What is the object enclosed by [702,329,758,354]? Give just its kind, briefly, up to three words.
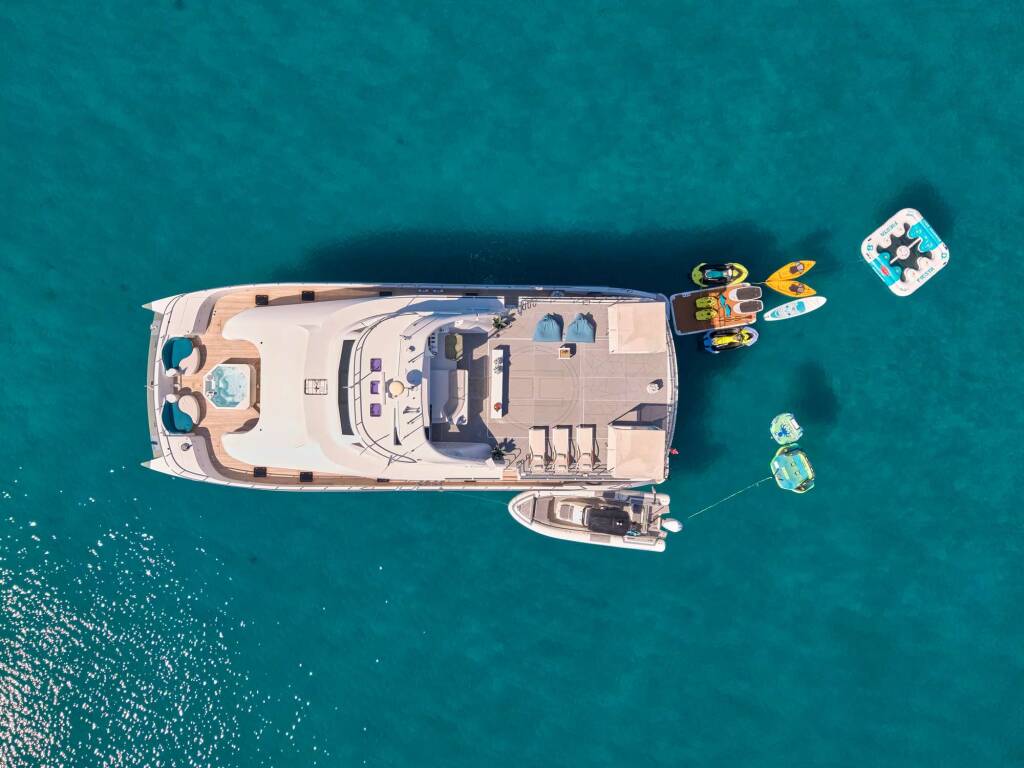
boat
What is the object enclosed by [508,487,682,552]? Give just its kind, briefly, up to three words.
boat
